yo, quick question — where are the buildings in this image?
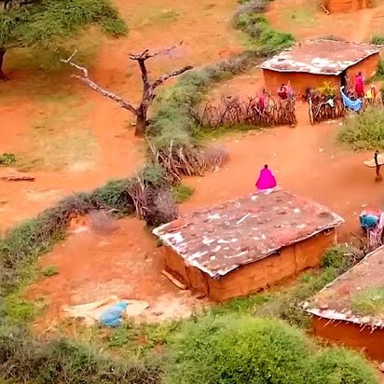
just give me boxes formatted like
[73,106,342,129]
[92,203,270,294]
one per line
[257,41,384,102]
[154,193,346,305]
[327,0,374,16]
[298,248,384,356]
